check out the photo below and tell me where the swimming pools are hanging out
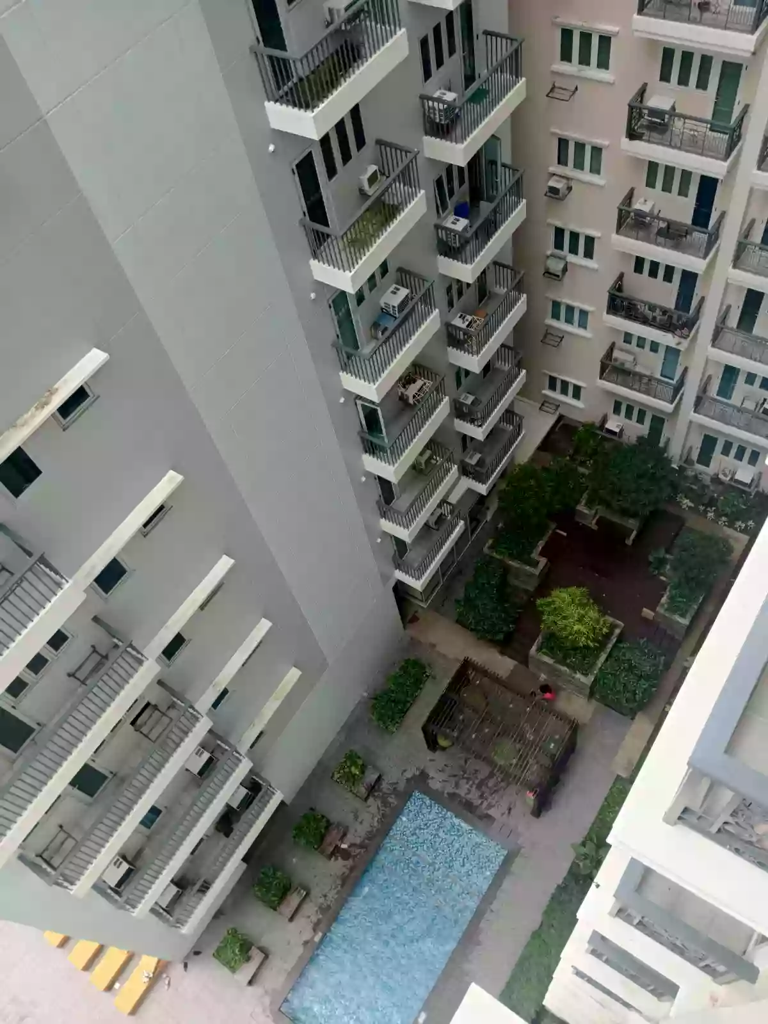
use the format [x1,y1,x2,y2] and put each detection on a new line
[267,776,523,1024]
